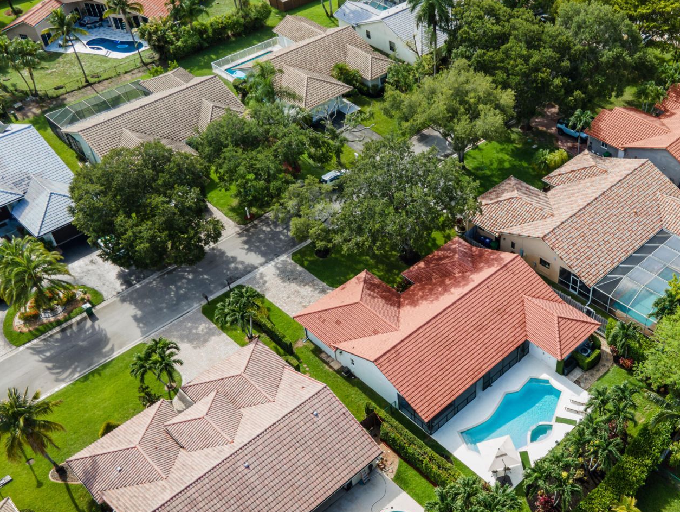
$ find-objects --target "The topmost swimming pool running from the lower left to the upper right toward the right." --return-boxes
[607,264,680,326]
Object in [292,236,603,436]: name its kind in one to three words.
house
